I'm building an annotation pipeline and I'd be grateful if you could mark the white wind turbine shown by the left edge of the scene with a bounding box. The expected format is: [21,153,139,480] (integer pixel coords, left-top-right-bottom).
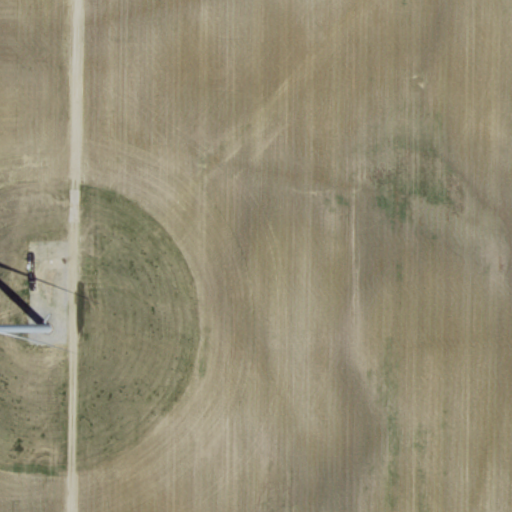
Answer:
[0,314,71,350]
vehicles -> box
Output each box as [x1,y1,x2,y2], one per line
[28,272,36,290]
[27,252,34,271]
